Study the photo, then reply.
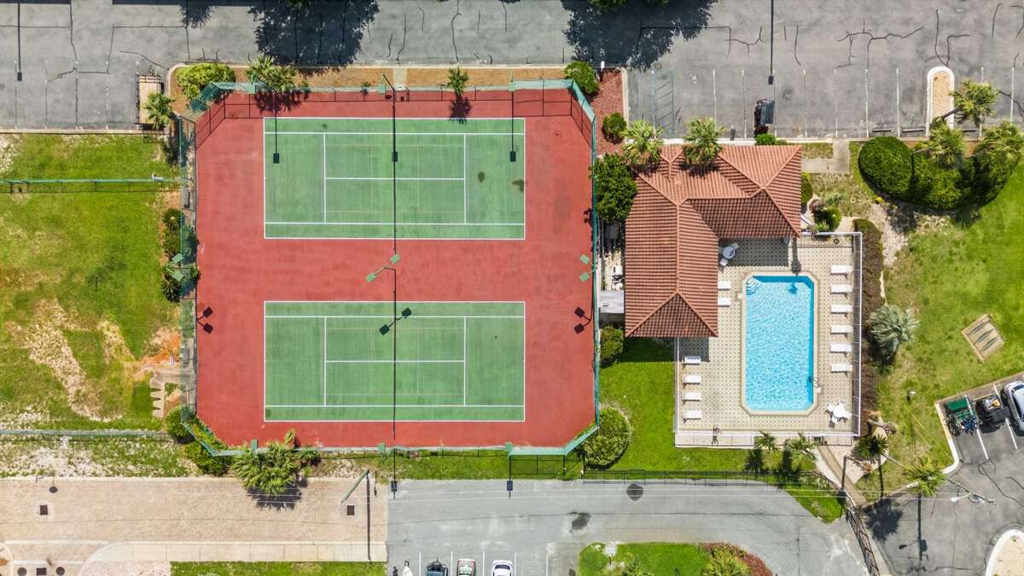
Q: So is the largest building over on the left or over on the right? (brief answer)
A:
right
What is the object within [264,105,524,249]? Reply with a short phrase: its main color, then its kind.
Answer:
green tennis court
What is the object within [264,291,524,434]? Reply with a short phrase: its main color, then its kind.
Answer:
green tennis court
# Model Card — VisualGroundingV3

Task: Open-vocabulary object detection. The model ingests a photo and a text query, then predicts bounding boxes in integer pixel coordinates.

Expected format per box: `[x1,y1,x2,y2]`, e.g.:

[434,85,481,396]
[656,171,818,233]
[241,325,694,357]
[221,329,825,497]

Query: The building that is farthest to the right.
[625,144,802,338]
